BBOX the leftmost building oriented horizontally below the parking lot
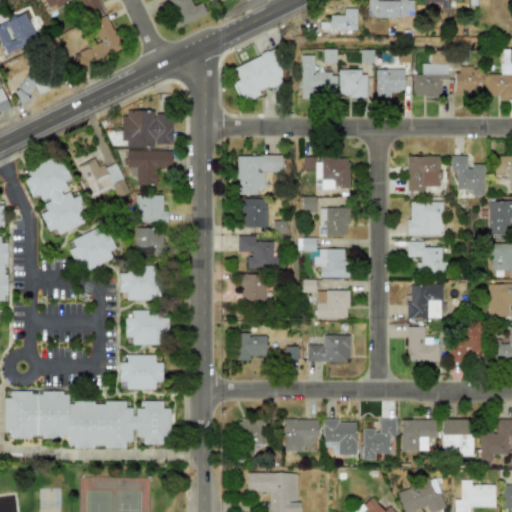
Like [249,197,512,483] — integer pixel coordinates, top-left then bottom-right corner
[4,392,133,448]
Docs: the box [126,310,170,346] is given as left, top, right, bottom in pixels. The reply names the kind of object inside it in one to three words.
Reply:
building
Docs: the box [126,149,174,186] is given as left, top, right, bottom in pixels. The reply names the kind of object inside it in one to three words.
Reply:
house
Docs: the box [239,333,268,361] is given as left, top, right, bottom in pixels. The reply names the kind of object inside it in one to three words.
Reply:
house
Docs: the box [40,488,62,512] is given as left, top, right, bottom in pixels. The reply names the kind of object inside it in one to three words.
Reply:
basketball court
